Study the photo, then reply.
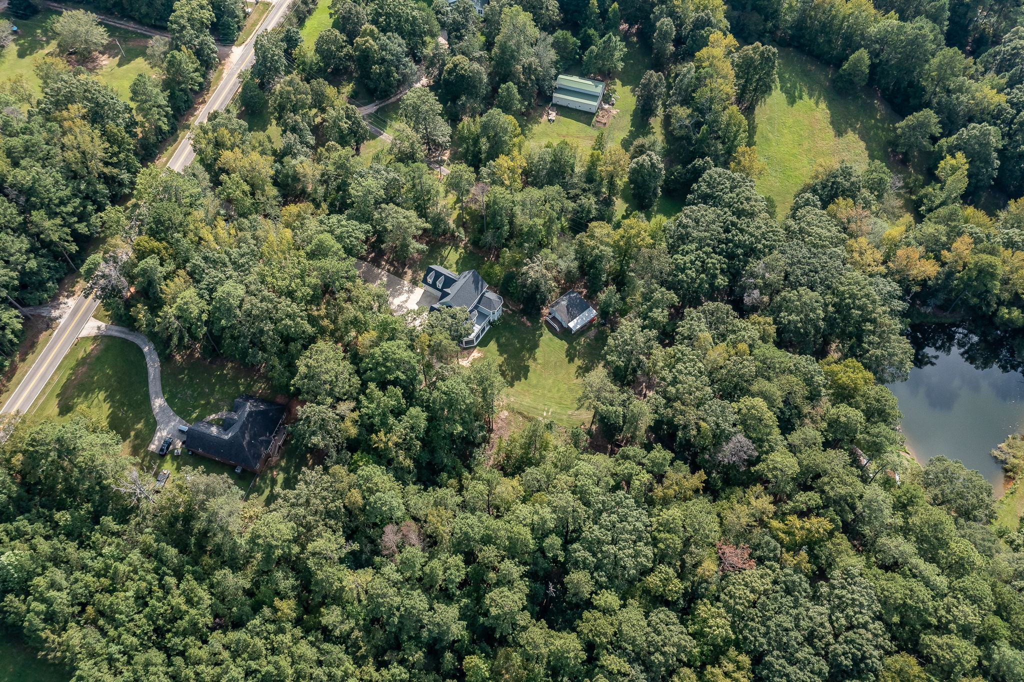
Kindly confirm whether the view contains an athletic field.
No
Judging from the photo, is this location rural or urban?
rural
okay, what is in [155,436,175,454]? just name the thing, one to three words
car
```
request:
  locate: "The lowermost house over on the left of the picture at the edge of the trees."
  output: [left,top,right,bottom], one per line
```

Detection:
[184,394,289,472]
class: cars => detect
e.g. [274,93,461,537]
[173,422,192,433]
[155,436,175,454]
